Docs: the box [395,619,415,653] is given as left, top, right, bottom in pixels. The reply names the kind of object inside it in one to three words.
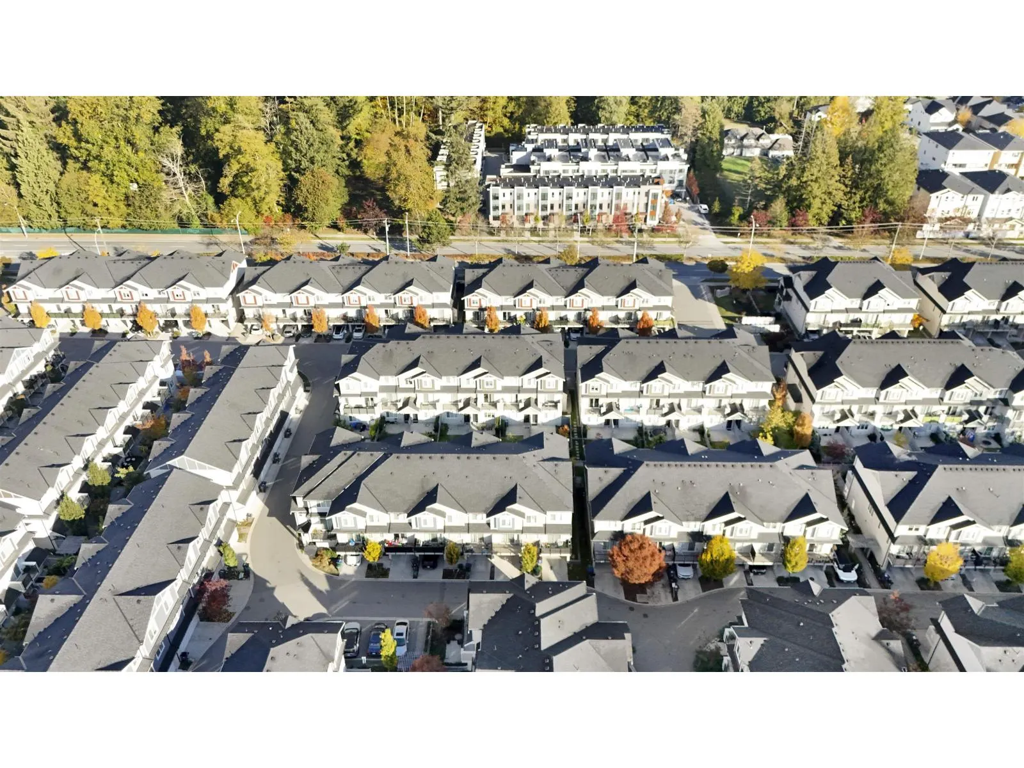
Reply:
car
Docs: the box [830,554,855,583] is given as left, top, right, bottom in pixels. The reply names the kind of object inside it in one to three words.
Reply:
car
